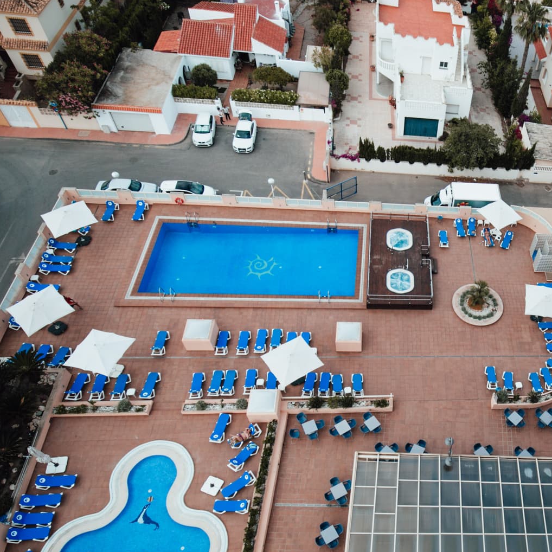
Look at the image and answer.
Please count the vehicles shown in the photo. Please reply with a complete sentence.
The picture shows 5 vehicles.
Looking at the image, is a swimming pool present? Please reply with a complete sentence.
Yes, there is a swimming pool in the image.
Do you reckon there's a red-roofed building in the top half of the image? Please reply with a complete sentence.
Yes, a red-roofed building is visible in the top half of the image.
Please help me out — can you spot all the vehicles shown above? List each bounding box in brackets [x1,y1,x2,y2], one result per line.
[231,106,257,156]
[93,173,157,198]
[190,115,216,150]
[426,182,501,216]
[157,175,216,200]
